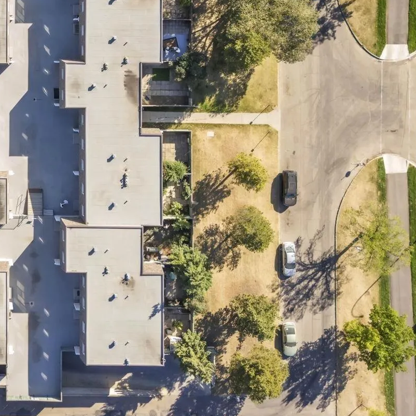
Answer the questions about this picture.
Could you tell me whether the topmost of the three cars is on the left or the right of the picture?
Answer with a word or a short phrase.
right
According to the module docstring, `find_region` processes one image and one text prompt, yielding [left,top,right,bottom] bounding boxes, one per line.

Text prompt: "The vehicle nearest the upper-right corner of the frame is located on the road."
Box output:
[280,170,300,205]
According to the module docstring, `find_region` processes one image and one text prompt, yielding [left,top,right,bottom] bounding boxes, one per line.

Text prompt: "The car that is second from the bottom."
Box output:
[280,242,298,276]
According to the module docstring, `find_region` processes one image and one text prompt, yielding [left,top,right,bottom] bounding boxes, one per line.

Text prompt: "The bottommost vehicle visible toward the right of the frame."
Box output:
[280,321,299,356]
